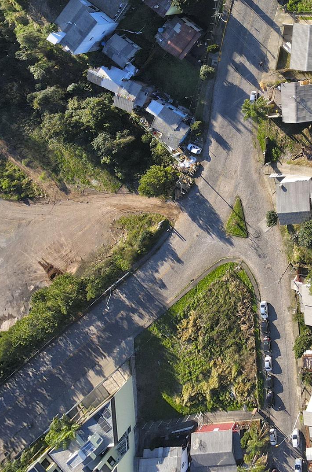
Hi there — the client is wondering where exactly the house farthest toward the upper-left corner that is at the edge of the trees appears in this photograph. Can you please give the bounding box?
[46,0,115,54]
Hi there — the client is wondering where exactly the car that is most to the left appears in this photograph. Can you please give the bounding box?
[182,143,203,156]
